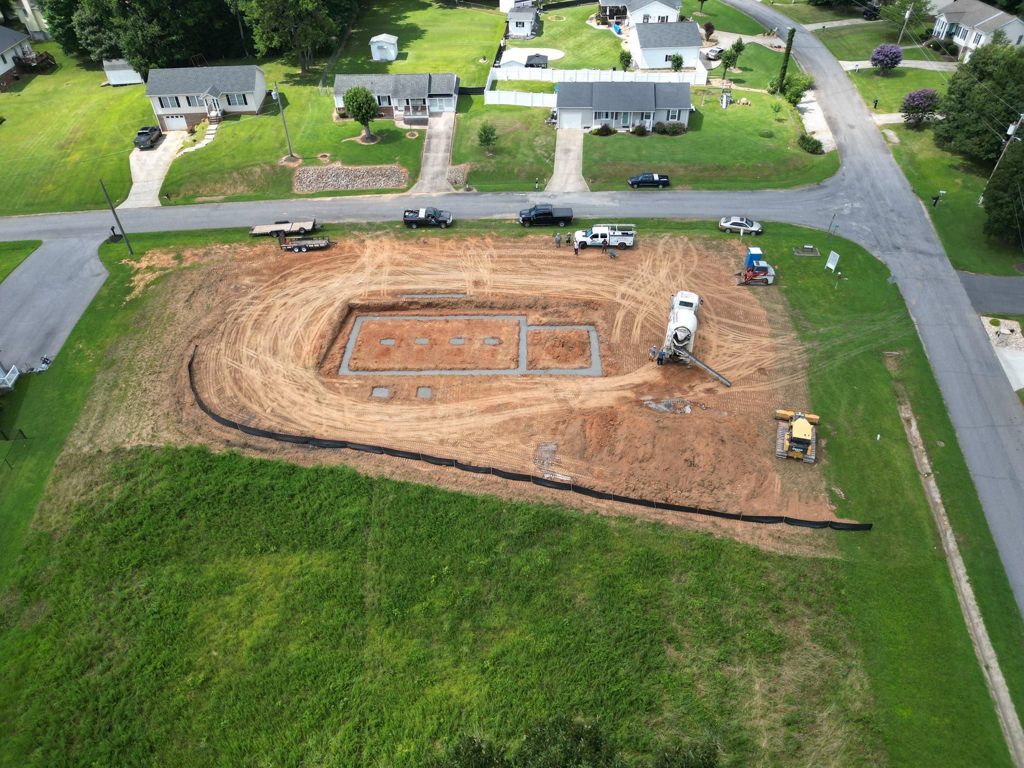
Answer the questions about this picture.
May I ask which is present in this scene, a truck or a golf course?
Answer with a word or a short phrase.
truck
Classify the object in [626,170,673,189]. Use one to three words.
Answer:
vehicle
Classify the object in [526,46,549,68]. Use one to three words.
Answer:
gazebo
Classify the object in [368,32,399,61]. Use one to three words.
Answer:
shed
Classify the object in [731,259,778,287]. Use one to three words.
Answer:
work vehicle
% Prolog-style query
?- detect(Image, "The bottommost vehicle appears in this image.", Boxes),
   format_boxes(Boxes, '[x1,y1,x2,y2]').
[769,408,820,462]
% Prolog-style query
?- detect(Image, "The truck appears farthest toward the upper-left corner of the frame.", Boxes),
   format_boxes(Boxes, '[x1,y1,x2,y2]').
[130,124,164,149]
